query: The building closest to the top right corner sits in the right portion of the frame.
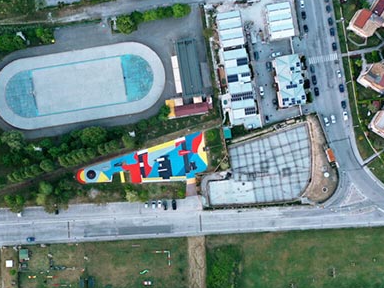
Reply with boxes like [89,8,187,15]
[345,0,384,39]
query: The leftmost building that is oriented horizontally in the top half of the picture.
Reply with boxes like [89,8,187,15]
[166,96,212,117]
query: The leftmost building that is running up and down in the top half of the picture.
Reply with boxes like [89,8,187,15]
[175,40,202,97]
